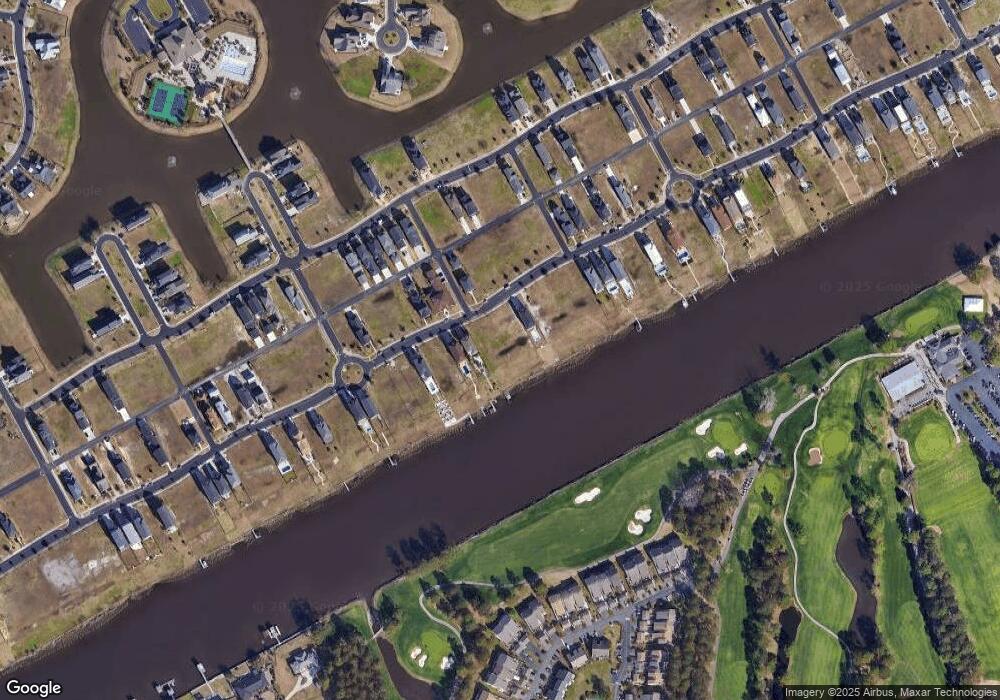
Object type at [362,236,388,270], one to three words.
house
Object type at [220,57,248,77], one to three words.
swimming pool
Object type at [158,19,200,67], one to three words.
building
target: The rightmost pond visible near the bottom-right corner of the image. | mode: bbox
[836,513,878,650]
